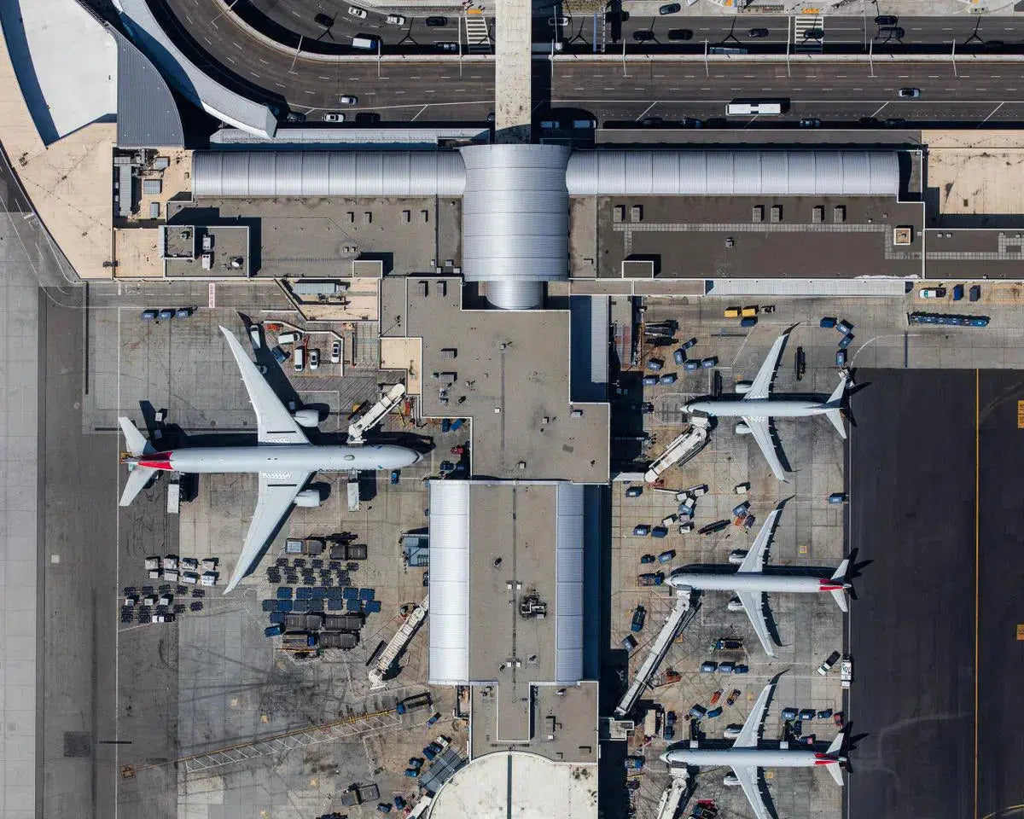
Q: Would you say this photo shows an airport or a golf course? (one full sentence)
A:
This looks like an airport.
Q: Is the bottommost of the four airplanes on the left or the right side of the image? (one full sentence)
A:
The bottommost of the four airplanes is on the right side of the image.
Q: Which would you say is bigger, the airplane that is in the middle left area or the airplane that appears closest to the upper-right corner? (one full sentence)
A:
Compared with the airplane that appears closest to the upper-right corner, the airplane that is in the middle left area is the bigger one.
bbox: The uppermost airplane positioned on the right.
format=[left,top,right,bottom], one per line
[680,333,851,485]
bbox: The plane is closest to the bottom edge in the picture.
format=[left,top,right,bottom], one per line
[659,683,846,819]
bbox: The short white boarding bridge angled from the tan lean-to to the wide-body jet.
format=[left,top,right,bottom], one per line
[346,382,407,447]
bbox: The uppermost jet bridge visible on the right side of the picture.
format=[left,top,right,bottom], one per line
[644,407,709,482]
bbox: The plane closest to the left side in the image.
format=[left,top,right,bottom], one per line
[118,325,423,595]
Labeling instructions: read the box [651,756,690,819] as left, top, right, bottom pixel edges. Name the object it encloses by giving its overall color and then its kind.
white jet bridge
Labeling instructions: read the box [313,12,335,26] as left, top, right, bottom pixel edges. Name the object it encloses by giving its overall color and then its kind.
black car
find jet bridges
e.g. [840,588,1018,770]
[615,584,695,718]
[651,756,690,819]
[366,593,429,692]
[346,382,407,447]
[644,407,709,482]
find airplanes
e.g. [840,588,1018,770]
[659,683,846,819]
[680,333,851,485]
[664,509,851,660]
[118,325,423,595]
